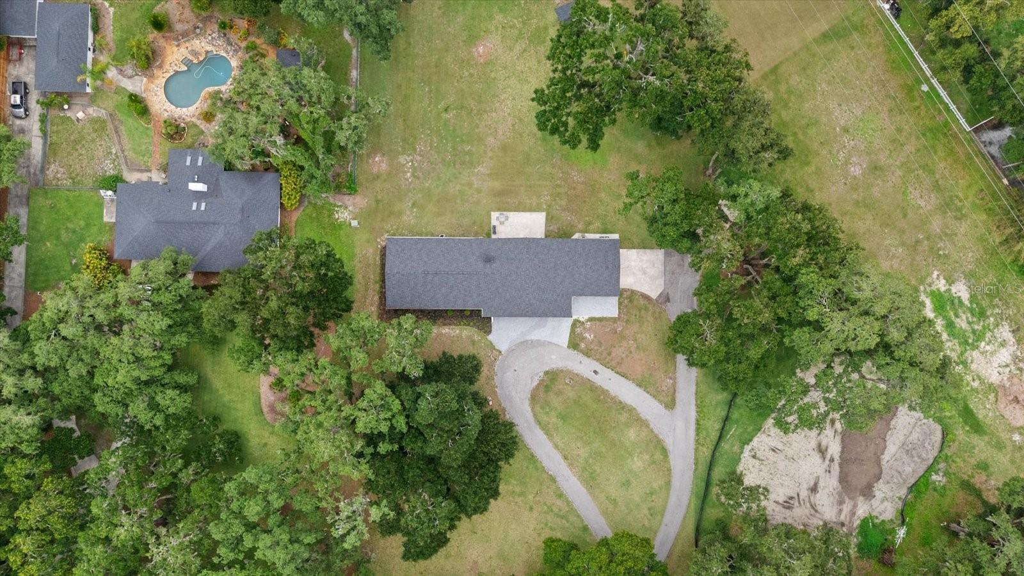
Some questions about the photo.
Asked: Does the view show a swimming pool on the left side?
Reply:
Yes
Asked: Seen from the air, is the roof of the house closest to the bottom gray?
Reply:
Yes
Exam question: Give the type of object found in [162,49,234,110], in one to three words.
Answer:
swimming pool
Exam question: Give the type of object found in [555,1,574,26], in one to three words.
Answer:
shed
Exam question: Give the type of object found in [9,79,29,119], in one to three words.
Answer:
vehicle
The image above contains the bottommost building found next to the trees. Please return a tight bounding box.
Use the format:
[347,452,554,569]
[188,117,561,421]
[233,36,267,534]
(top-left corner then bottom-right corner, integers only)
[384,237,621,318]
